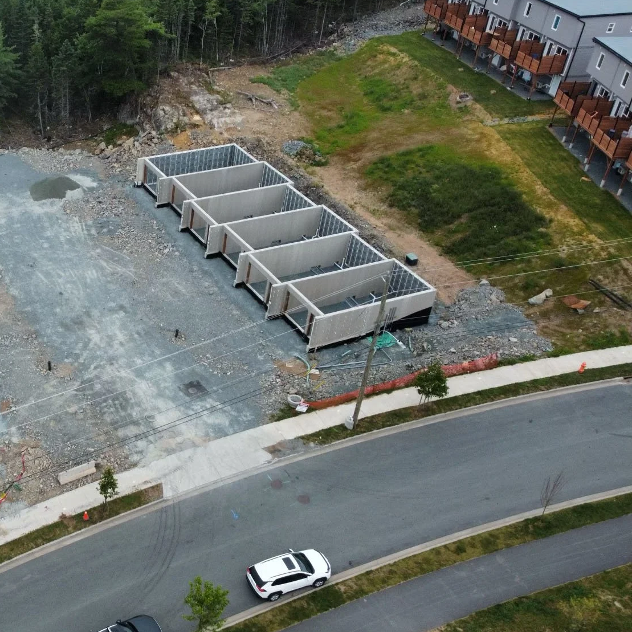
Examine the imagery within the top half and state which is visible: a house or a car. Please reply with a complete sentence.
There is a house within the top half.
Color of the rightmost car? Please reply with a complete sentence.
The rightmost car looks white in the image.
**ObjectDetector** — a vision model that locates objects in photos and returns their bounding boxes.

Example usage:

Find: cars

[102,618,168,632]
[250,552,333,602]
